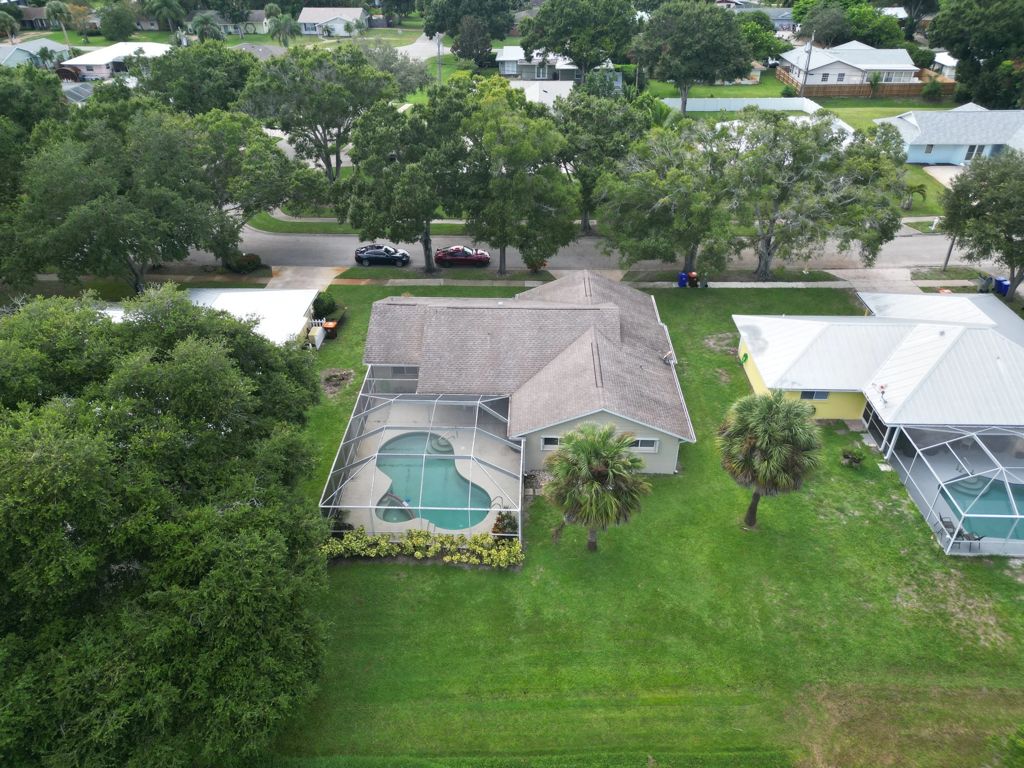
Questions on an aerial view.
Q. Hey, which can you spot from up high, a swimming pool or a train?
swimming pool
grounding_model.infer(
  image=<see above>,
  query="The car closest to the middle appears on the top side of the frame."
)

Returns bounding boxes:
[433,244,493,267]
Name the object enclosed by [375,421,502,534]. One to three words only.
swimming pool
